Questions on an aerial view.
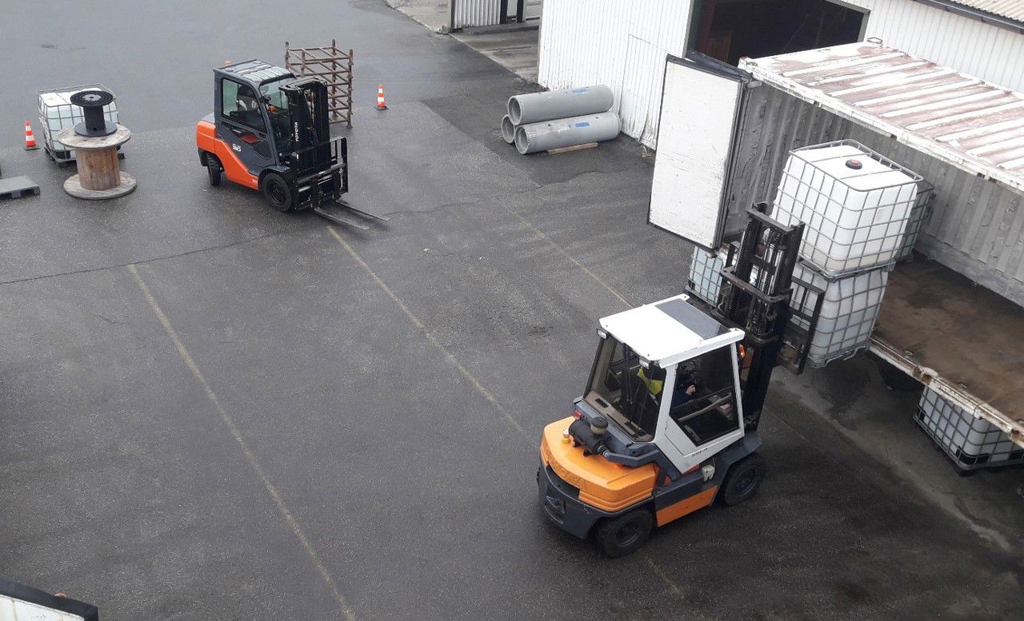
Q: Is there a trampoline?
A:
No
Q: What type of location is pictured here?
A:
industrial area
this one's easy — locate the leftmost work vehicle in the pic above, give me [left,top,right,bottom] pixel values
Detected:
[200,53,392,231]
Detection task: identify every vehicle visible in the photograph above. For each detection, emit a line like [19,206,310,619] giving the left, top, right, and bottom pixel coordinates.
[537,200,834,557]
[200,53,392,231]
